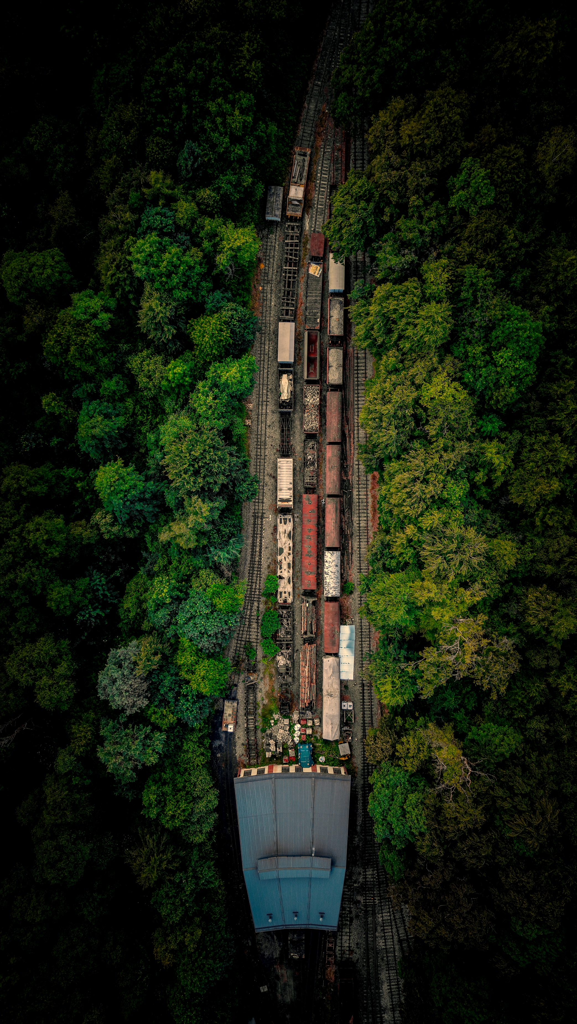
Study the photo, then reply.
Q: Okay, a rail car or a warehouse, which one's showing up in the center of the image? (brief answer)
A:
rail car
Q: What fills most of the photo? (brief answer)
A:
trees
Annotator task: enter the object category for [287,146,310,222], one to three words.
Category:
rail car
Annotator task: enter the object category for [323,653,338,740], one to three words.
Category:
rail car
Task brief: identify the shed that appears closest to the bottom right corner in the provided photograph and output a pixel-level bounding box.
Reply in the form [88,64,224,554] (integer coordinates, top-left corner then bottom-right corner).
[233,764,351,933]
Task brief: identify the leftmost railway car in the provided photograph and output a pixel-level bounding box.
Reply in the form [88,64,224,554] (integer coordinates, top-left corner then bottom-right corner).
[222,697,237,732]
